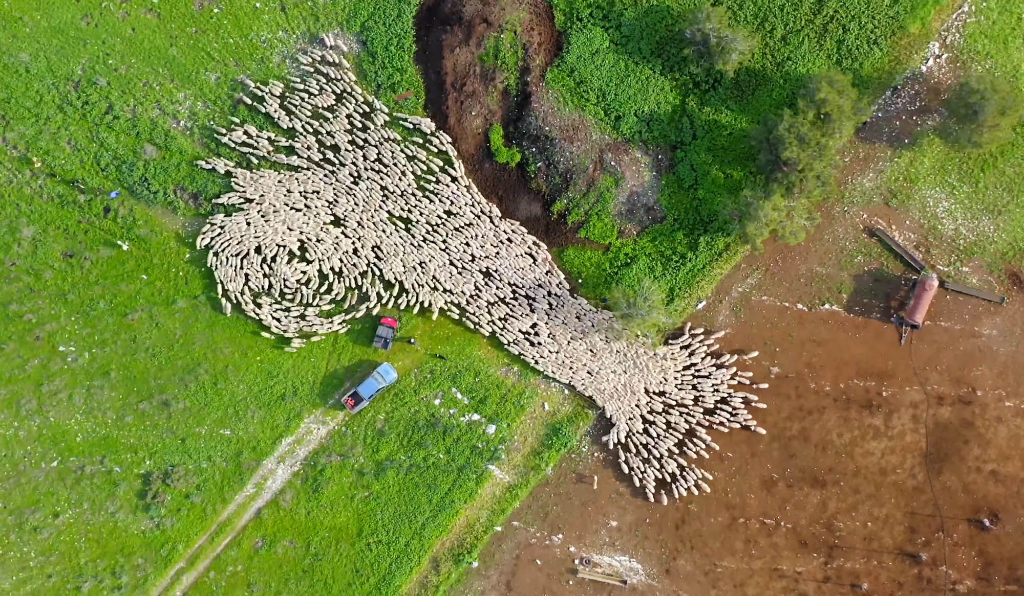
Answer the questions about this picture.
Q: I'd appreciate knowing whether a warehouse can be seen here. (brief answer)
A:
No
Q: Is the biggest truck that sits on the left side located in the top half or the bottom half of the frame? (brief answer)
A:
bottom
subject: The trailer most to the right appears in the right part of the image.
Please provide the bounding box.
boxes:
[891,269,939,350]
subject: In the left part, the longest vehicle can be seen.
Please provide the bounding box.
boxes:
[340,362,401,417]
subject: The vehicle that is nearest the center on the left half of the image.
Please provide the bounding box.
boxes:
[375,317,400,351]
